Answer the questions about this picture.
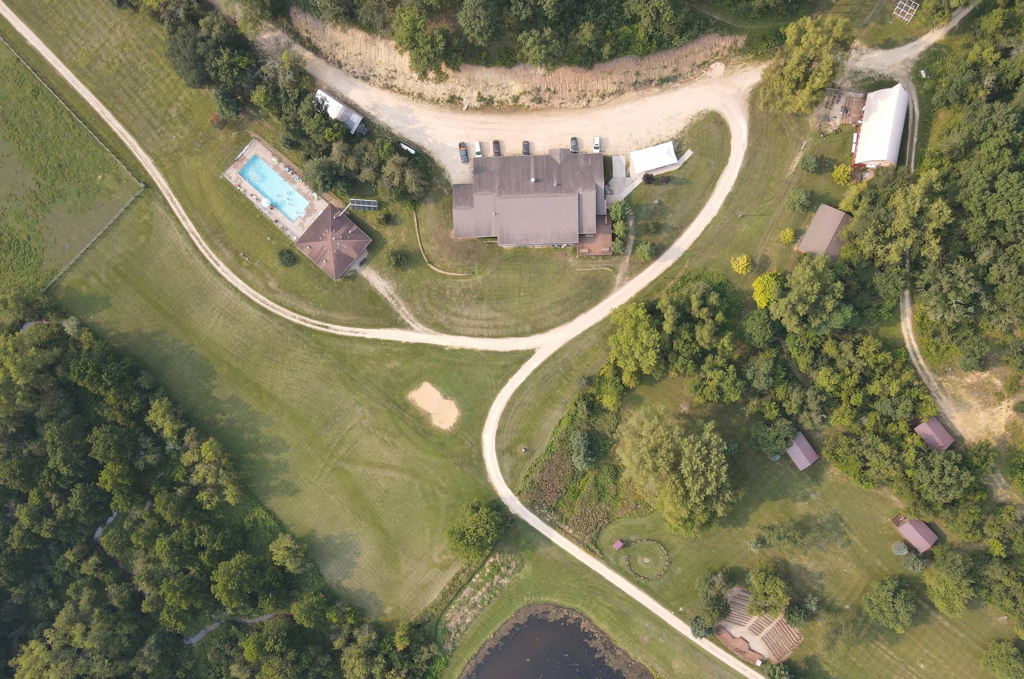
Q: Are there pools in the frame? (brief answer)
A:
Yes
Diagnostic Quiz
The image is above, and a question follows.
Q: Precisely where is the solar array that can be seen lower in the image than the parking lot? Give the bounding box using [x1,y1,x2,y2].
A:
[350,199,378,211]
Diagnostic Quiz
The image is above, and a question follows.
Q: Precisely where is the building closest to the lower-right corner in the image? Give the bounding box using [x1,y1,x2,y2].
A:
[899,516,938,555]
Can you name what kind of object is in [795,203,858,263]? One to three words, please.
building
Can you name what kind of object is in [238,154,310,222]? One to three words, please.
swimming pool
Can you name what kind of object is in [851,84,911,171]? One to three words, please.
barn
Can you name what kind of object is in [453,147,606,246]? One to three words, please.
building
